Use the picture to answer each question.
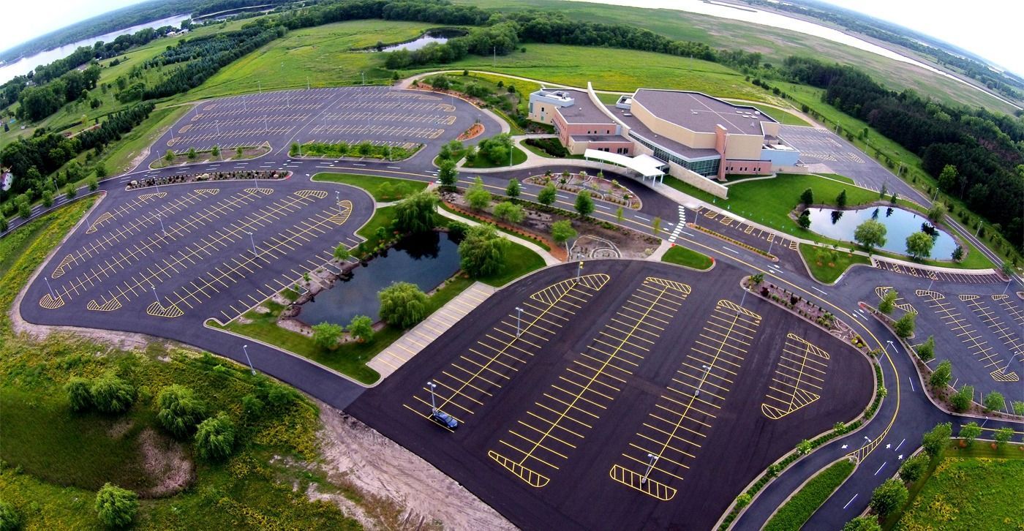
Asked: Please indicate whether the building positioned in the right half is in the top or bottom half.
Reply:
top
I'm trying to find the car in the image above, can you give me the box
[431,409,456,426]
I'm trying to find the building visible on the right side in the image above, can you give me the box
[526,78,809,199]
